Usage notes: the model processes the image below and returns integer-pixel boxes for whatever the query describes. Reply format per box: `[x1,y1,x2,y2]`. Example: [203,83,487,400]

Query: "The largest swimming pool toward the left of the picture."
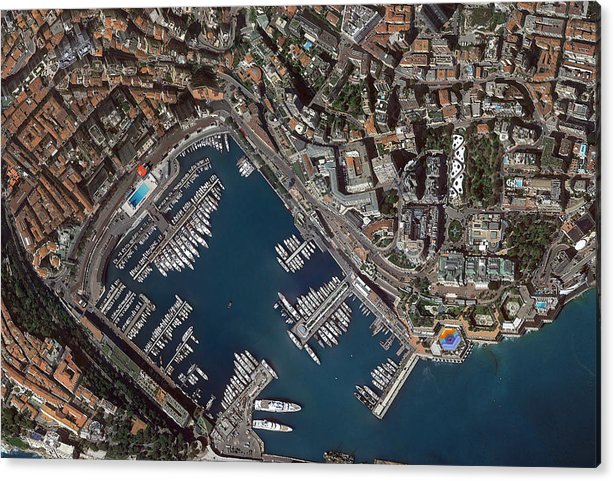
[122,174,158,217]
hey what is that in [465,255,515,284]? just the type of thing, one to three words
building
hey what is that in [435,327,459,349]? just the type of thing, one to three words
building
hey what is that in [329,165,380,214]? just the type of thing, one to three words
house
